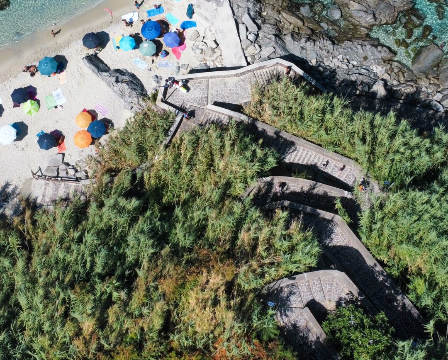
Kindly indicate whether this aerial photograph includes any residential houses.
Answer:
No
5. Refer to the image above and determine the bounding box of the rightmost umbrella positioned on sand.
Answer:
[164,33,179,48]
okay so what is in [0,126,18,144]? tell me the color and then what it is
white umbrella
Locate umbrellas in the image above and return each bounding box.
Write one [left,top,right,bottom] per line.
[0,126,18,144]
[22,100,38,115]
[38,132,55,149]
[74,131,91,148]
[140,40,156,56]
[38,58,58,76]
[88,120,106,137]
[83,32,100,49]
[164,33,179,48]
[141,21,161,39]
[76,111,92,127]
[9,88,28,105]
[118,36,135,52]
